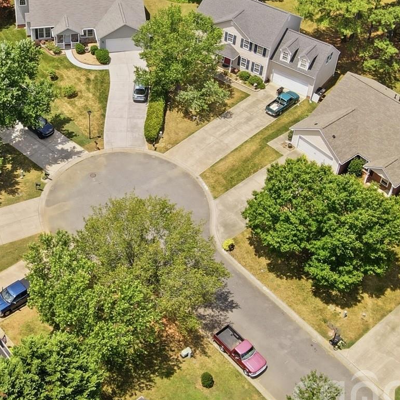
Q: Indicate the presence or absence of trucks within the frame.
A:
Yes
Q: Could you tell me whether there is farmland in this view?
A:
No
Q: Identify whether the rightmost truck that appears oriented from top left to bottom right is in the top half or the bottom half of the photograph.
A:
bottom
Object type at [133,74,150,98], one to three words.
car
